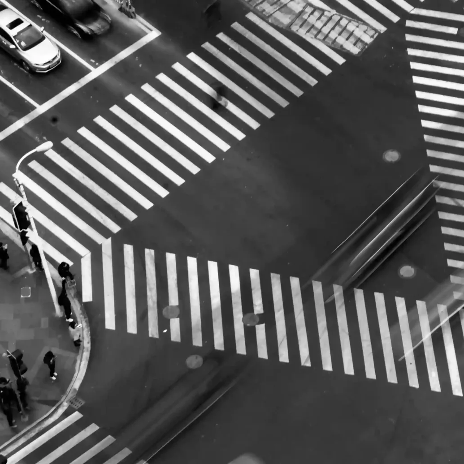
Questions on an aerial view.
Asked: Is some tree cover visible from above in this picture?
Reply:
No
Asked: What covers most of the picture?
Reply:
paved ground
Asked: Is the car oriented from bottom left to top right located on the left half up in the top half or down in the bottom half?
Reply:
bottom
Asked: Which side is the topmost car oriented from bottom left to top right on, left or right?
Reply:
right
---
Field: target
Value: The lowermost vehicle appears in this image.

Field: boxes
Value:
[129,353,235,452]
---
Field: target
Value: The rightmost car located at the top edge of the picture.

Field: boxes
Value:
[33,0,114,41]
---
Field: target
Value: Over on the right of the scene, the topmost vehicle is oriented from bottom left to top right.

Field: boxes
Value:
[338,180,434,272]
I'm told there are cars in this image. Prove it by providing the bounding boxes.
[338,180,434,272]
[406,251,464,332]
[129,353,235,452]
[0,0,62,74]
[33,0,114,41]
